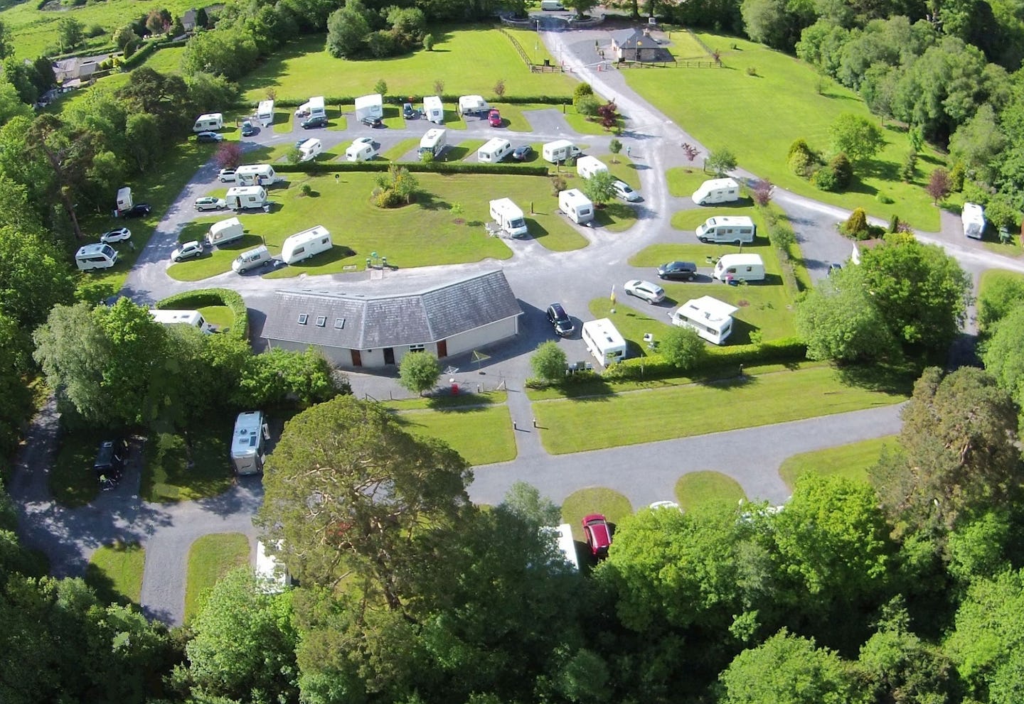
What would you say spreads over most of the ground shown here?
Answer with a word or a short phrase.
trees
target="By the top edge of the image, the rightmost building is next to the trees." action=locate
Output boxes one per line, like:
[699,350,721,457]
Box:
[613,21,660,61]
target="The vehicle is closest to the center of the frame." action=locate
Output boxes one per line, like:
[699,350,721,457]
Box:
[549,302,573,335]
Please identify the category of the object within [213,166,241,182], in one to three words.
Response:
car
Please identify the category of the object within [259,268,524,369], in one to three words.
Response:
building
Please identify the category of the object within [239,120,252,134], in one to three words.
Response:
vehicle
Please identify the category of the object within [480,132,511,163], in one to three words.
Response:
camper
